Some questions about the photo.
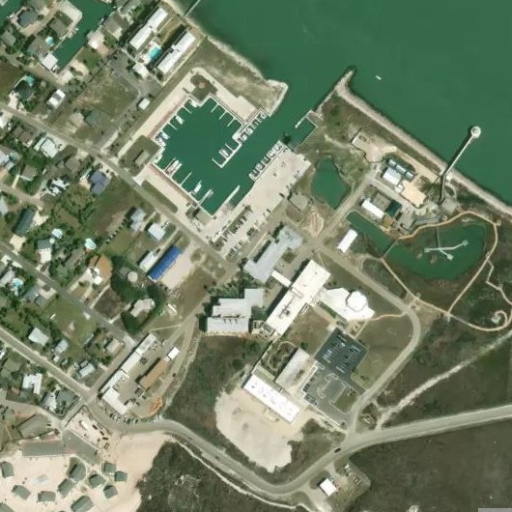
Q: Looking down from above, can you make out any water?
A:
Yes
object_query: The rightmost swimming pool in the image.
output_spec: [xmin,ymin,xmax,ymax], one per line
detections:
[146,44,161,60]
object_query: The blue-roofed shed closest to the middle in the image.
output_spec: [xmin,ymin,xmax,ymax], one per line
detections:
[146,242,179,283]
